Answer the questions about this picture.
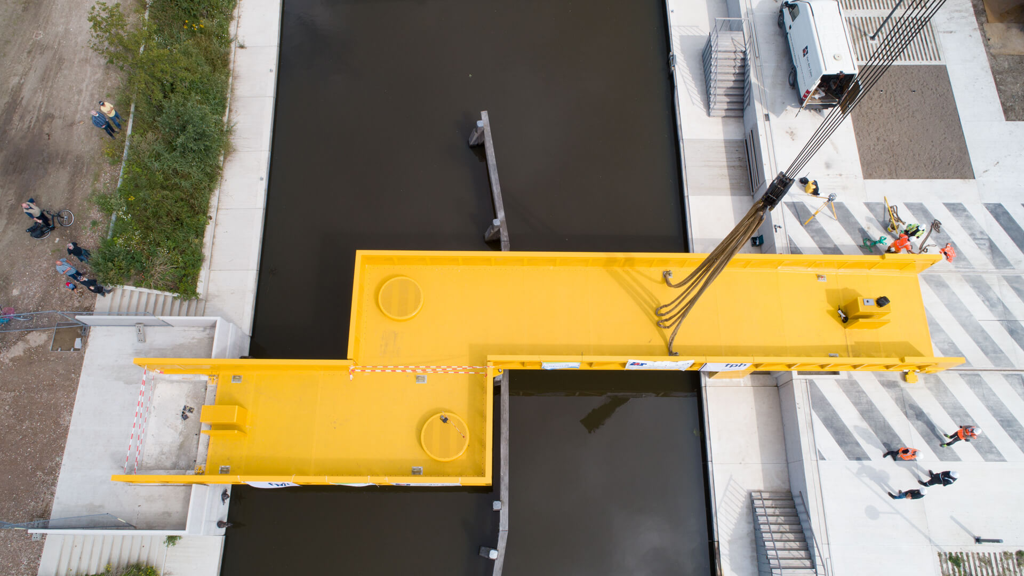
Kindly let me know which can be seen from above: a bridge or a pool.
bridge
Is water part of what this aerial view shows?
Yes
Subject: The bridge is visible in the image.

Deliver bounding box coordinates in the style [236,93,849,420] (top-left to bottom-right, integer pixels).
[110,251,967,487]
